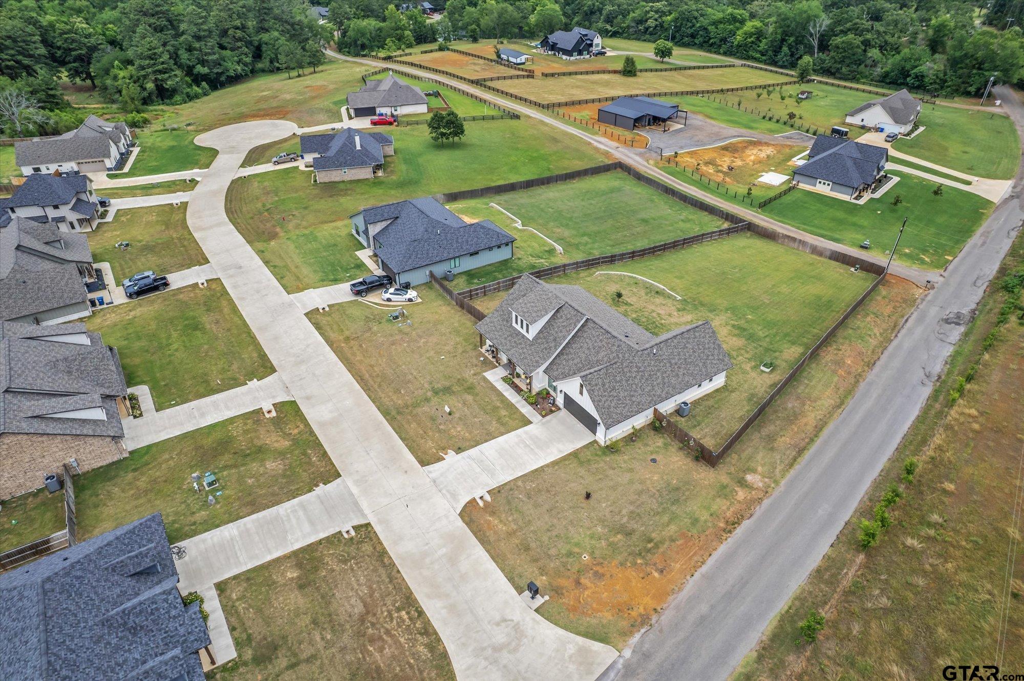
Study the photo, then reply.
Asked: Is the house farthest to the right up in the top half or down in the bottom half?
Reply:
top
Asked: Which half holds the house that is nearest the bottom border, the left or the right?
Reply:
left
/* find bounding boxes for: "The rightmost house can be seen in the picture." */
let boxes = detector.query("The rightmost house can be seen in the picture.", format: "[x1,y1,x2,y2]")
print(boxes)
[845,86,926,134]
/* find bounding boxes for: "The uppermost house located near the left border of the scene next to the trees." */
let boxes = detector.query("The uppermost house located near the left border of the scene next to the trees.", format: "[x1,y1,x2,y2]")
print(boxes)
[15,108,138,177]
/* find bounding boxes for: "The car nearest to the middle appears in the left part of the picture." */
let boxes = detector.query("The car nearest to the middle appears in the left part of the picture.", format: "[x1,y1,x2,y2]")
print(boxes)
[379,286,420,301]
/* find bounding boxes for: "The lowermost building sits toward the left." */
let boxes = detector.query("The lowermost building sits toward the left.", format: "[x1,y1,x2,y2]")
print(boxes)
[0,511,220,681]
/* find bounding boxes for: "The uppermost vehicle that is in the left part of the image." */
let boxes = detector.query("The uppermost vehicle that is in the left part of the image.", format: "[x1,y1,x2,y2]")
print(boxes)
[367,113,398,125]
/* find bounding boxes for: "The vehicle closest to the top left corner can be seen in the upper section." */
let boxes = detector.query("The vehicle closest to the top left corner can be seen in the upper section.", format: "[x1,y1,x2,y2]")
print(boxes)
[96,193,114,206]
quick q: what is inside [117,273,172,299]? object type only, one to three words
truck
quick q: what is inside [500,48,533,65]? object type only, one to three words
shed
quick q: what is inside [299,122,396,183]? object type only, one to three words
house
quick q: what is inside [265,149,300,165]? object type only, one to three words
vehicle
